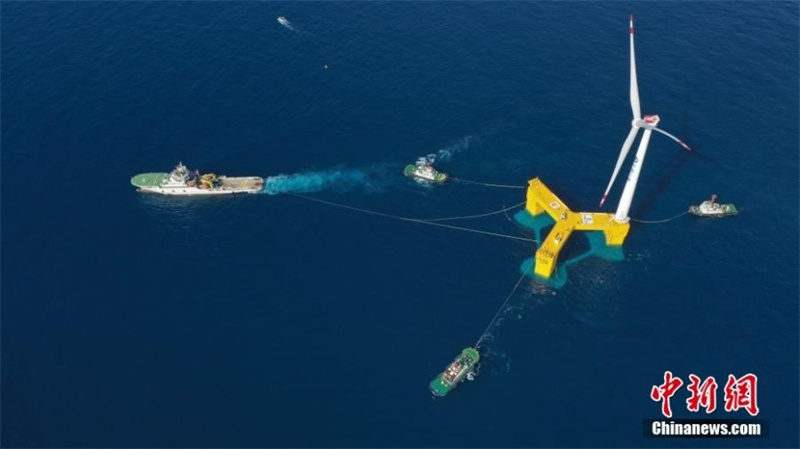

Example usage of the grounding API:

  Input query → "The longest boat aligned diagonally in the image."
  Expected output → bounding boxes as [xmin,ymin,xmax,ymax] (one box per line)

[428,349,482,399]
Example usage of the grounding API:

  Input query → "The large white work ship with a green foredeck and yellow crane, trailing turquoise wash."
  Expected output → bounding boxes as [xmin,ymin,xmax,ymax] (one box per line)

[130,159,266,197]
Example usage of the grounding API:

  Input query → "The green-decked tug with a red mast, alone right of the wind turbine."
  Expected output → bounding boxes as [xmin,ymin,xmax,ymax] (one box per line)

[689,198,741,221]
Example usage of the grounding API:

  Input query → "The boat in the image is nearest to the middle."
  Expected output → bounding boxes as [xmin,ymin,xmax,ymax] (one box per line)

[402,162,450,187]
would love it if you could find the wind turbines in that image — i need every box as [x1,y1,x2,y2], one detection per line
[600,14,691,223]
